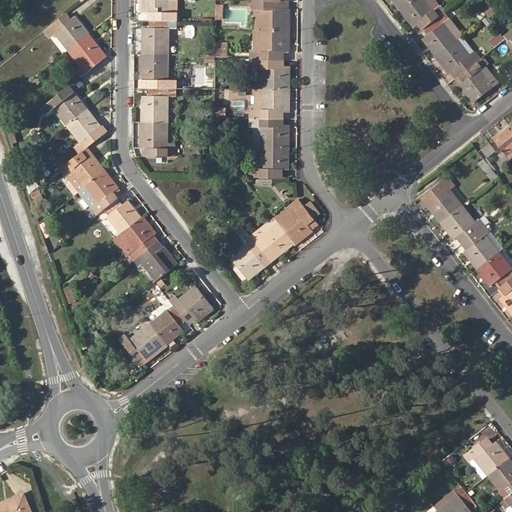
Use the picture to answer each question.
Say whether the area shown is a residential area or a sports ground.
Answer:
residential area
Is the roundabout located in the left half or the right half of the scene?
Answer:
left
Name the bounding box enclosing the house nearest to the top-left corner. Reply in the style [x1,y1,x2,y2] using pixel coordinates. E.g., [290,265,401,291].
[43,10,88,53]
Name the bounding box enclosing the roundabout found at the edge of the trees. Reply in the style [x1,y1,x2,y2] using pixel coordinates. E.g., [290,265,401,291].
[0,370,127,500]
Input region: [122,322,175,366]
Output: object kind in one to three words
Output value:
house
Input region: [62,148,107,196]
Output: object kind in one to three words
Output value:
house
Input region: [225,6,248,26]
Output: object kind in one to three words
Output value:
swimming pool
